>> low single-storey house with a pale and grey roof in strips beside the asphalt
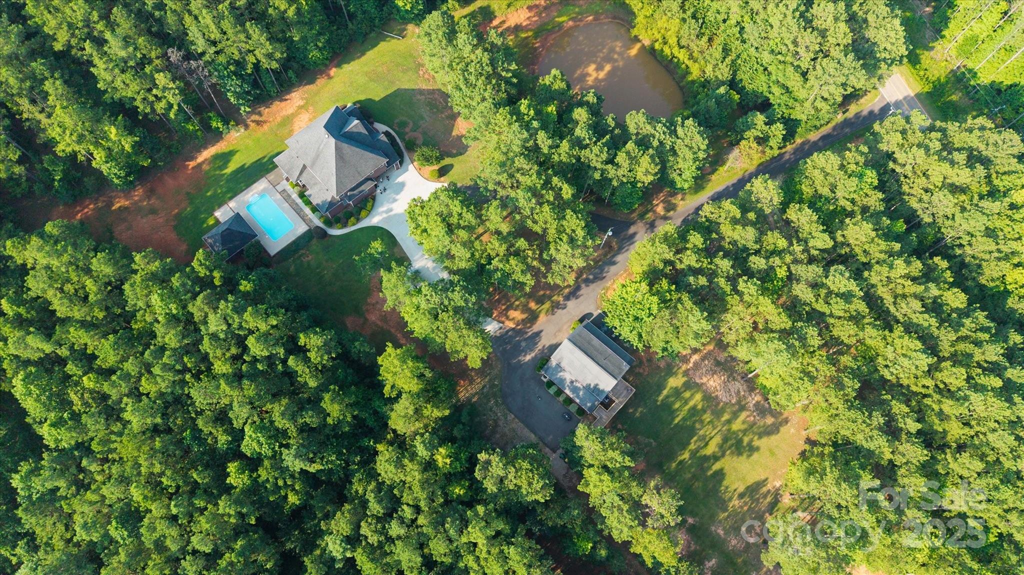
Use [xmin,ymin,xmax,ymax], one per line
[540,319,636,414]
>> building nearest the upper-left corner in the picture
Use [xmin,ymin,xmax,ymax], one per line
[203,212,259,263]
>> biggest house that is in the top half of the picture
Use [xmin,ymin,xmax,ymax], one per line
[272,104,403,219]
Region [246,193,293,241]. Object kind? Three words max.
swimming pool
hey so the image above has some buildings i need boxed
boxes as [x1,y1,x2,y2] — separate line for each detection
[203,212,259,263]
[272,104,403,219]
[540,319,636,414]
